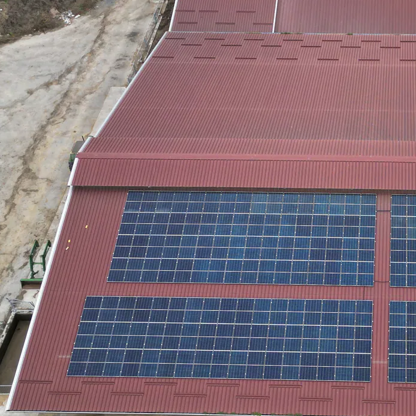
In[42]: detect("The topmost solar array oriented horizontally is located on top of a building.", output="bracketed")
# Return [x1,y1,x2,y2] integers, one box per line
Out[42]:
[107,190,378,286]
